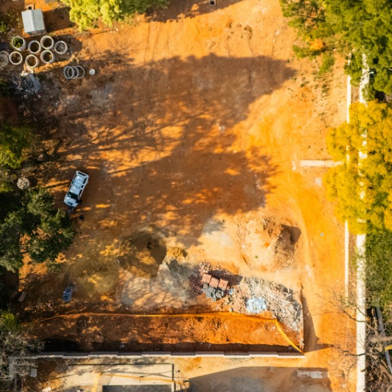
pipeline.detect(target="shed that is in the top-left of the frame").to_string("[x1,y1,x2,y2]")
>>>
[22,7,48,35]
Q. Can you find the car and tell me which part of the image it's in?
left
